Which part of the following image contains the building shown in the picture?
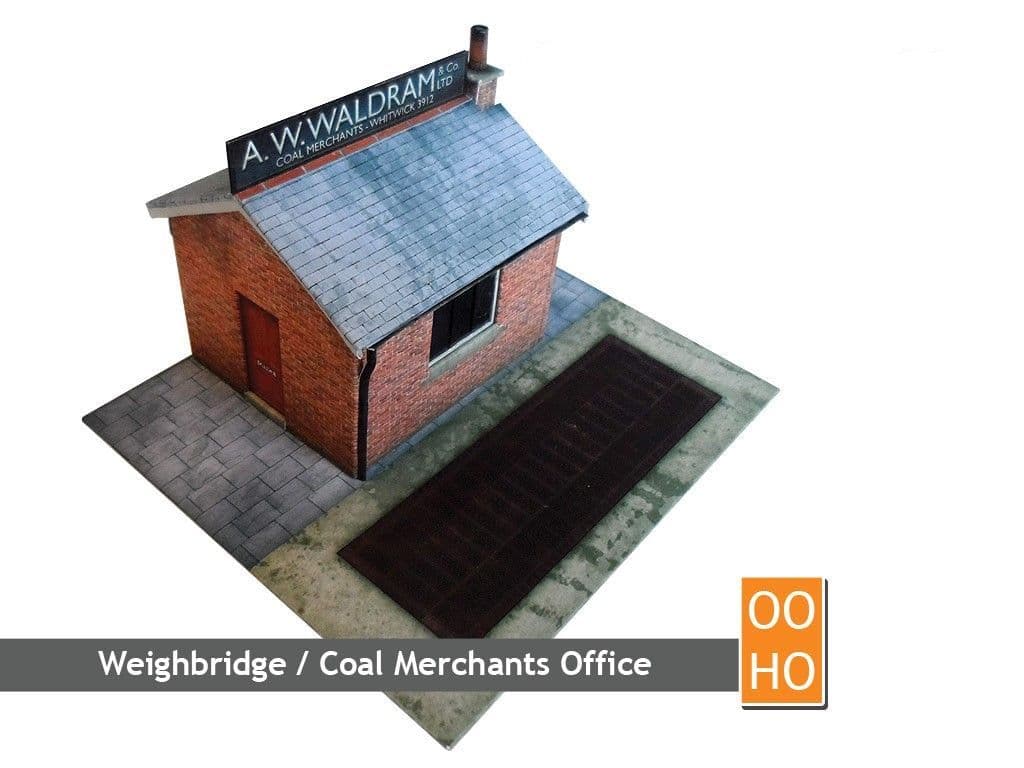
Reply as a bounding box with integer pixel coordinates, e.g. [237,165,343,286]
[146,51,593,479]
